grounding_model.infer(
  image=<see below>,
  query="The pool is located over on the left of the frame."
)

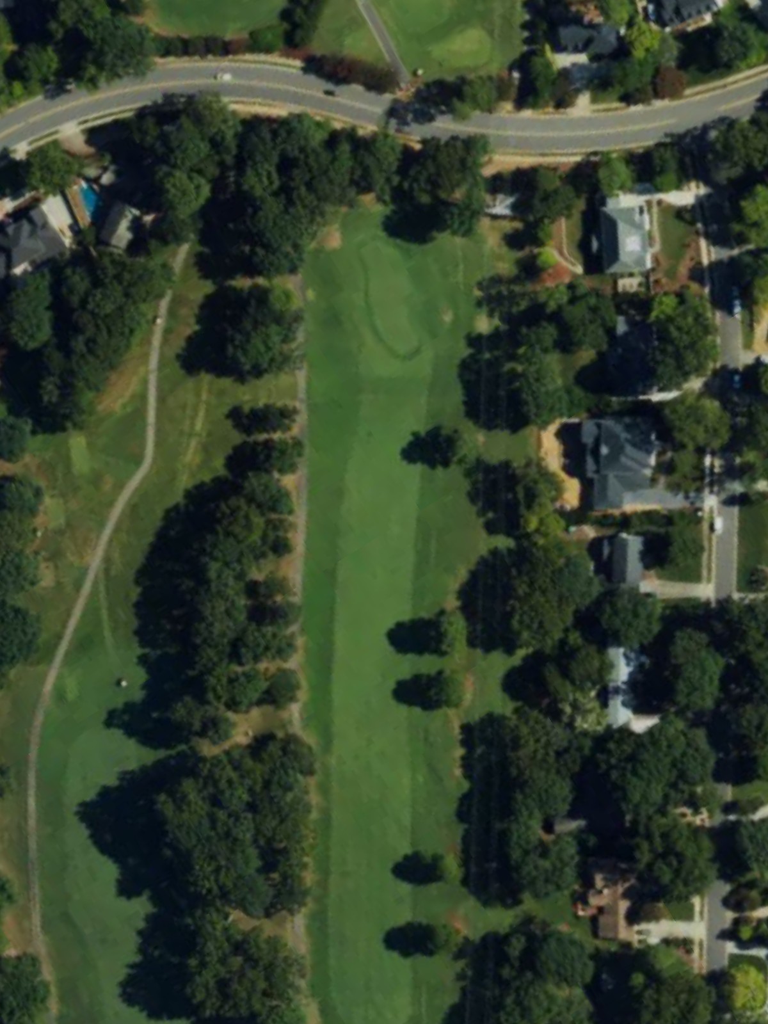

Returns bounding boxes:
[67,181,108,227]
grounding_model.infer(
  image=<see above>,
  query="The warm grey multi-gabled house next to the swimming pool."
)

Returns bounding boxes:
[0,204,76,279]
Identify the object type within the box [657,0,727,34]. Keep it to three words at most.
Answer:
house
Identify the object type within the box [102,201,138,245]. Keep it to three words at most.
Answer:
shed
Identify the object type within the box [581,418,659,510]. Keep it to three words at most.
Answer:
house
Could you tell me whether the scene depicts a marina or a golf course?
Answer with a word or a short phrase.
golf course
